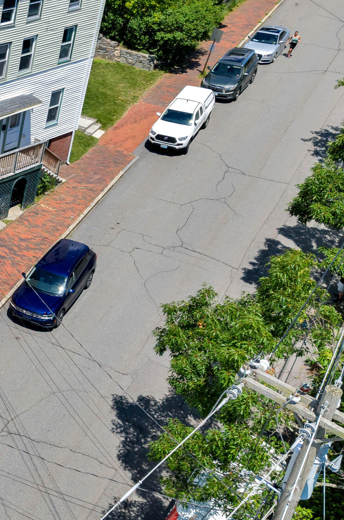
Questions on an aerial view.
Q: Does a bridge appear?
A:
No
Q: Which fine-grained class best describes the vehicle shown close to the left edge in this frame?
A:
automobile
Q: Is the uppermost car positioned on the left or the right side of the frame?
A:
right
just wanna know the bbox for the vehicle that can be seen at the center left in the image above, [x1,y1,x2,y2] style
[8,236,103,332]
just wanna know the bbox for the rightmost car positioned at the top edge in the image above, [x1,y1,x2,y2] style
[244,23,293,63]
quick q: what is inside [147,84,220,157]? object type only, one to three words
truck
